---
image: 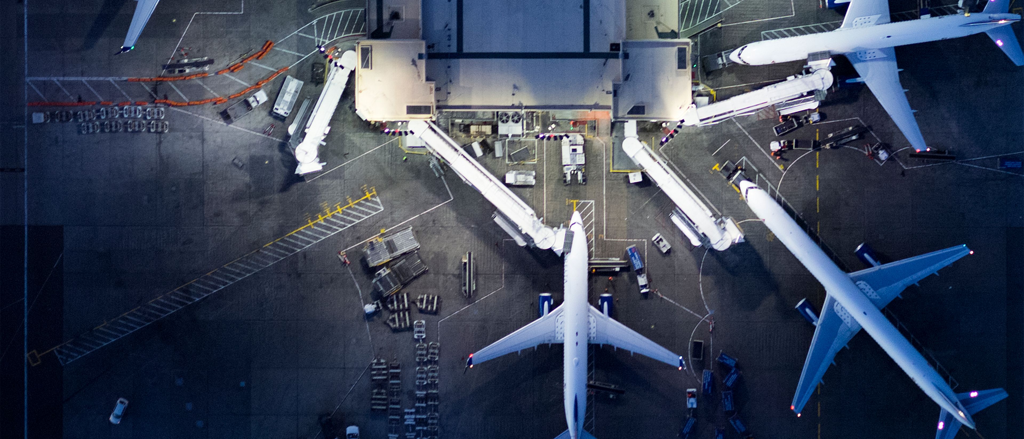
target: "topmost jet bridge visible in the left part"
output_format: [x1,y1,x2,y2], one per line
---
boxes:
[288,49,356,174]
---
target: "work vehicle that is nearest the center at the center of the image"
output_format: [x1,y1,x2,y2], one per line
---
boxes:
[505,169,536,186]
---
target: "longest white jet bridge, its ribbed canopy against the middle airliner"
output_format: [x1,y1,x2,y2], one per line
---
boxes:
[408,120,574,257]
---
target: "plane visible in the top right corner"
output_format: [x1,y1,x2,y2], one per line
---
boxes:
[730,0,1024,153]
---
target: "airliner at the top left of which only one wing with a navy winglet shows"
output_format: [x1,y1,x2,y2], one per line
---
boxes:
[110,0,159,56]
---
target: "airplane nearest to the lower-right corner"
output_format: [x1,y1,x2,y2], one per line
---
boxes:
[739,180,1011,439]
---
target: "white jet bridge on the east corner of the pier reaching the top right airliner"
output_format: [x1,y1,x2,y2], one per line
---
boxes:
[681,51,835,127]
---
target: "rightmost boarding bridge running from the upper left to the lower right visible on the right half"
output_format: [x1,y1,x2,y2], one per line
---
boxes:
[621,121,744,251]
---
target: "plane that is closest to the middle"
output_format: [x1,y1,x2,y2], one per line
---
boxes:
[463,211,689,439]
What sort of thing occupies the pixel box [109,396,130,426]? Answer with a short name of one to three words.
car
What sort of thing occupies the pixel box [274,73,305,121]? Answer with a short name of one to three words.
truck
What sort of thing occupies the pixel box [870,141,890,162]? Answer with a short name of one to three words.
work vehicle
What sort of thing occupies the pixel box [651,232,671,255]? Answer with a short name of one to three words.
vehicle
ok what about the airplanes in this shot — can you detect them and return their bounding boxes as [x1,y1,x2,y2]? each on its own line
[463,211,689,439]
[739,180,1011,439]
[730,0,1024,153]
[110,0,159,56]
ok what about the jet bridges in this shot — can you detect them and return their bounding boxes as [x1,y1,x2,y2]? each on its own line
[288,49,356,174]
[408,120,574,257]
[621,121,744,251]
[681,51,835,127]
